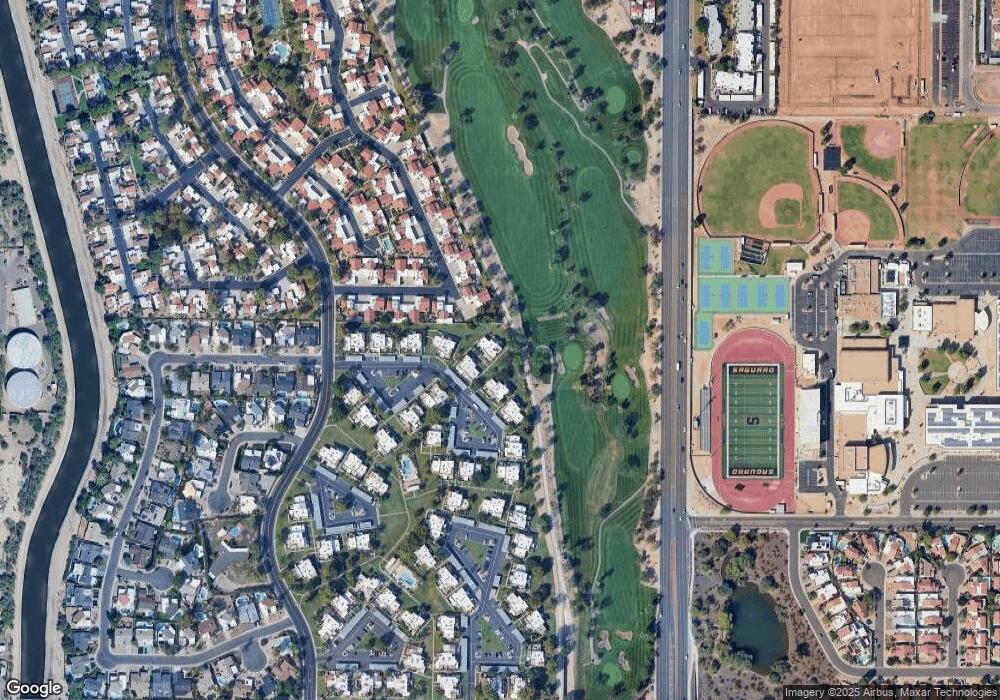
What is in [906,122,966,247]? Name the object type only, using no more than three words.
sports field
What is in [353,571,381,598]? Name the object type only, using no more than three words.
building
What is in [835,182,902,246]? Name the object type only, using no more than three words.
baseball field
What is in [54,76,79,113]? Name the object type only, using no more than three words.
tennis court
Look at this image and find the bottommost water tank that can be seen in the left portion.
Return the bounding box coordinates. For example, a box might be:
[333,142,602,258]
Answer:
[5,372,42,407]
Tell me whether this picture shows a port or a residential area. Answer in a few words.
residential area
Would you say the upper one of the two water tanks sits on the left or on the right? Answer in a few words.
left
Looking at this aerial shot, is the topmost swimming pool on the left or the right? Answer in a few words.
left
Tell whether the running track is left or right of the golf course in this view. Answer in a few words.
to the right of it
